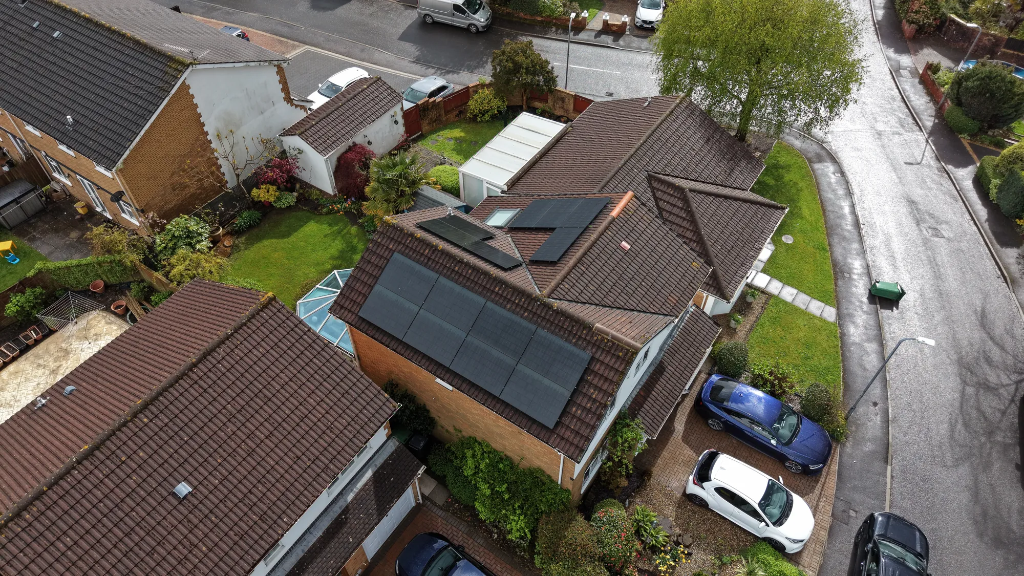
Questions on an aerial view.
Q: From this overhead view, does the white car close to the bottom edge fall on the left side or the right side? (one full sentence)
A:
It is on the right.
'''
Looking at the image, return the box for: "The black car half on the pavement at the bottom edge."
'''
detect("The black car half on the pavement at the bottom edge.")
[853,506,944,576]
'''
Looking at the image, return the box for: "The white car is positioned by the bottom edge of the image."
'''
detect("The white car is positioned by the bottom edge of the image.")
[685,450,820,555]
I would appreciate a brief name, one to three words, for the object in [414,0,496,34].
van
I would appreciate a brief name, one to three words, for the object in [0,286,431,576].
house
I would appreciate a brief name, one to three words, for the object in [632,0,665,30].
car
